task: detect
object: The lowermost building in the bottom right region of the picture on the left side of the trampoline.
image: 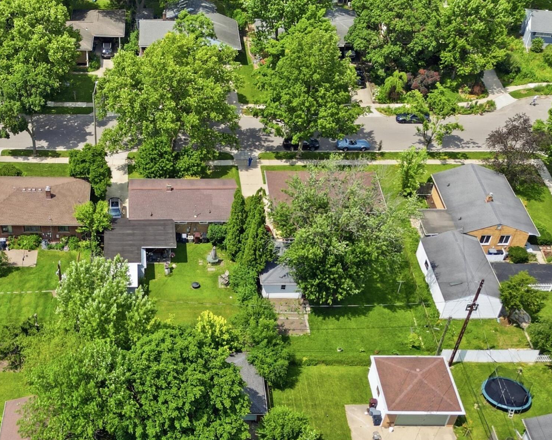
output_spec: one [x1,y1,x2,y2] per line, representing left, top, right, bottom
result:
[367,353,468,430]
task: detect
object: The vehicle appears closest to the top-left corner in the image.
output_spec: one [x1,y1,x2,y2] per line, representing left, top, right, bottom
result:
[99,38,115,60]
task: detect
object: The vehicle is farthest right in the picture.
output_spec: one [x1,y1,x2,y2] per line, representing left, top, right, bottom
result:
[390,110,424,126]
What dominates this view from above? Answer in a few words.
trees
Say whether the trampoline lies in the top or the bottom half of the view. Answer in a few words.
bottom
